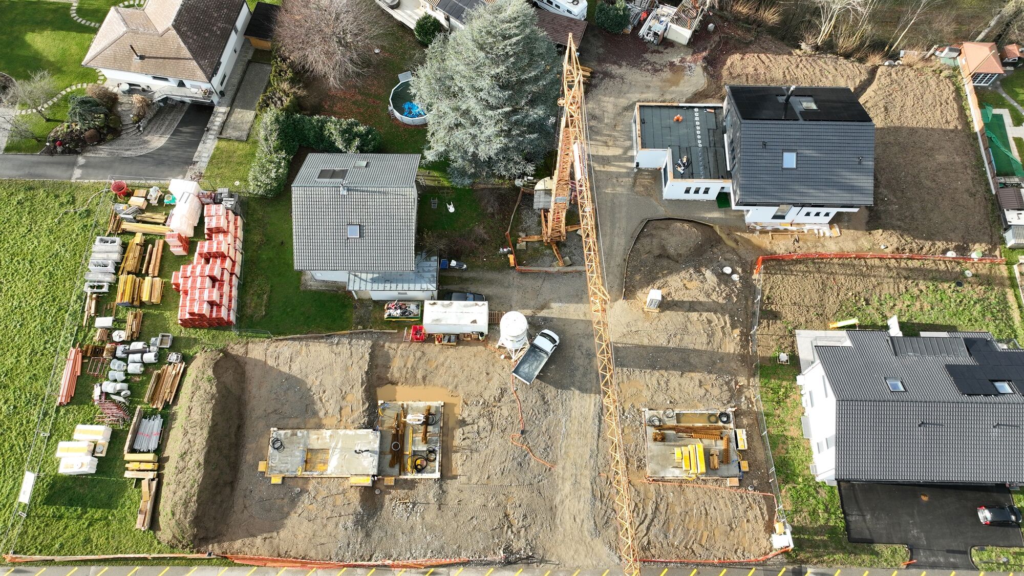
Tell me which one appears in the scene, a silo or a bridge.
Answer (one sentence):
This aerial view contains a silo.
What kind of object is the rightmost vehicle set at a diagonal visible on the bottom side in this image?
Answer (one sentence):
In the photo, the rightmost vehicle set at a diagonal visible on the bottom side shows up as a truck.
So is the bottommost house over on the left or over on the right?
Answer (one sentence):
It is on the right.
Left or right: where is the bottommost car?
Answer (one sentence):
It is on the right.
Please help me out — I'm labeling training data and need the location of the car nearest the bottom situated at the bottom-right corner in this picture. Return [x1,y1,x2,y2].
[974,501,1023,527]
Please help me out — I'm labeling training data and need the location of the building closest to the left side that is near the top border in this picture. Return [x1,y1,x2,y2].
[81,0,258,110]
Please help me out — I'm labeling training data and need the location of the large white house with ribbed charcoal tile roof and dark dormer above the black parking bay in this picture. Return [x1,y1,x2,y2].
[795,315,1024,487]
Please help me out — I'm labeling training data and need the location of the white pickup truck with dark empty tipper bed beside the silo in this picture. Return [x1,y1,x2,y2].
[509,331,560,389]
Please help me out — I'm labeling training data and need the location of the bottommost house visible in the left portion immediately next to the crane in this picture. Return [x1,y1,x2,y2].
[291,153,442,301]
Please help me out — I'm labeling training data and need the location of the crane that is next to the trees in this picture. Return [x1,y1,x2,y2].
[520,32,647,576]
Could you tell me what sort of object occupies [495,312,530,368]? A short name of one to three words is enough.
silo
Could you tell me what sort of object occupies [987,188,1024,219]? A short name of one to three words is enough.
shed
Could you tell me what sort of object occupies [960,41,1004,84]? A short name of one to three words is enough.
building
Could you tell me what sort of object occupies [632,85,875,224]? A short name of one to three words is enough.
house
